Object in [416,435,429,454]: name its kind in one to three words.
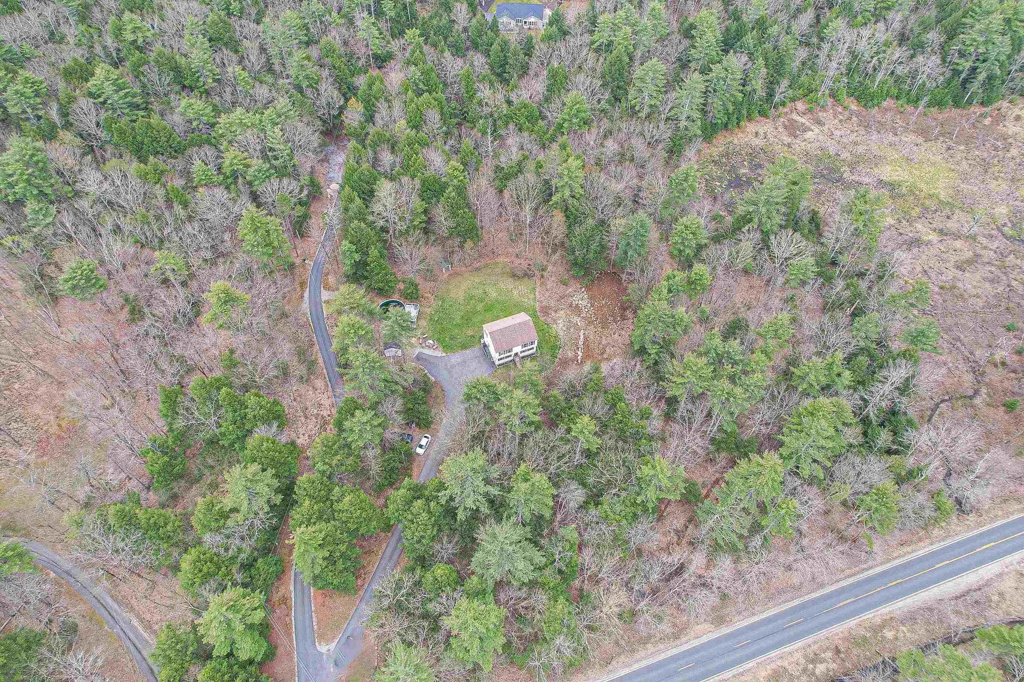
vehicle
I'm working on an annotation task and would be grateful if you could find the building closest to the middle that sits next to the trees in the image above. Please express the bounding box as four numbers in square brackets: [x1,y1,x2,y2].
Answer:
[481,313,538,371]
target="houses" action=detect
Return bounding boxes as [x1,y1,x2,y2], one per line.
[497,4,545,35]
[481,313,538,371]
